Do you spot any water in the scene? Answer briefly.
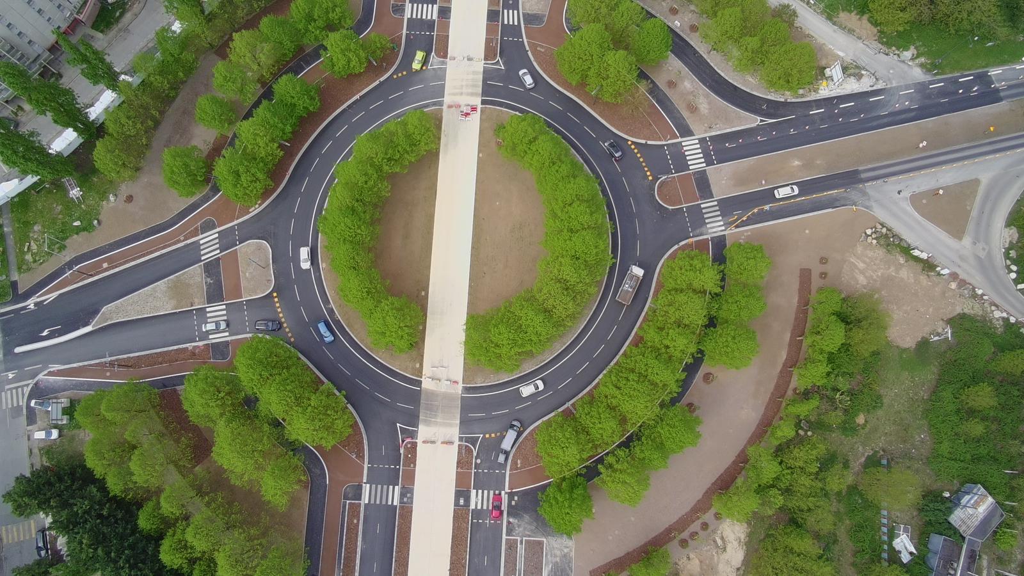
No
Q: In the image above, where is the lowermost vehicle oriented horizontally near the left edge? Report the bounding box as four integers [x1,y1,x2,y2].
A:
[29,428,57,441]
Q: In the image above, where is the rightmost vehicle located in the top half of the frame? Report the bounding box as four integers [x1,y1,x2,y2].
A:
[774,183,799,197]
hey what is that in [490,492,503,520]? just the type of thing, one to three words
vehicle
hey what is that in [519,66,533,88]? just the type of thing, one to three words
car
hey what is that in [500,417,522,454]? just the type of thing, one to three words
vehicle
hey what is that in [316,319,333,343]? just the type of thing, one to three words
car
